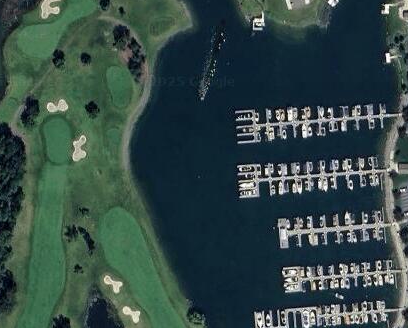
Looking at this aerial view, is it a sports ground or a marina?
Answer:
marina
